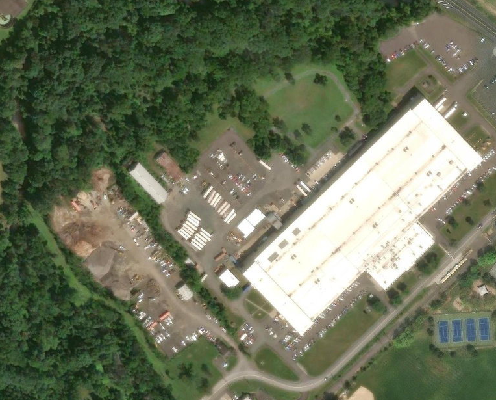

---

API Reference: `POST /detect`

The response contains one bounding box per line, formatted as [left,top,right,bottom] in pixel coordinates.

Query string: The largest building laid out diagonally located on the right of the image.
[242,98,482,336]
